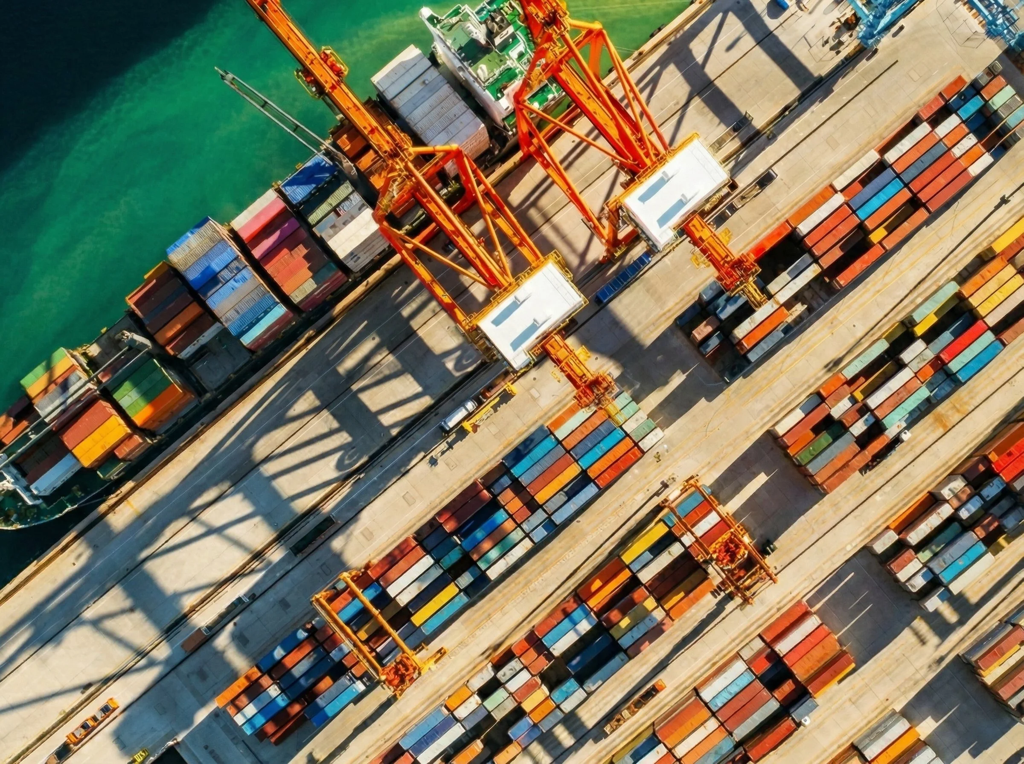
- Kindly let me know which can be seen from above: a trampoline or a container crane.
container crane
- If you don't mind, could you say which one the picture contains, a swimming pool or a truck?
truck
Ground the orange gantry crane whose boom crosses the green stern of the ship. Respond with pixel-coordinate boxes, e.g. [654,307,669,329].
[506,0,777,309]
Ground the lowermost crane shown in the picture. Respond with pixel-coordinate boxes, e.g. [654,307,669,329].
[300,547,456,706]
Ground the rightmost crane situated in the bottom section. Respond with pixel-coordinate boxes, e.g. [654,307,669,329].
[641,466,790,618]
